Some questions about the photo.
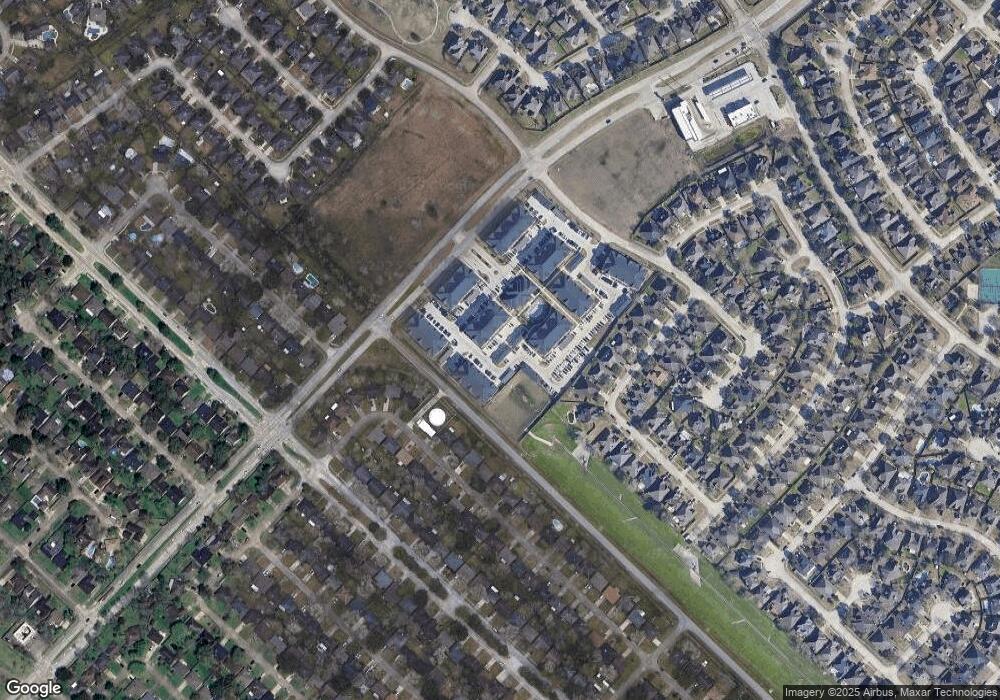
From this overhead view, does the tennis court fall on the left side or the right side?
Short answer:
right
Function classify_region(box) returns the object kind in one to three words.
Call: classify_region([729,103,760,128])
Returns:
building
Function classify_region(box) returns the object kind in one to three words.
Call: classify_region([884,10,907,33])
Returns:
house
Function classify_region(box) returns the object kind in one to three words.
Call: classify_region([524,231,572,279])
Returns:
building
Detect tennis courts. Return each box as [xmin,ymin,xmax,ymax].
[978,268,1000,303]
